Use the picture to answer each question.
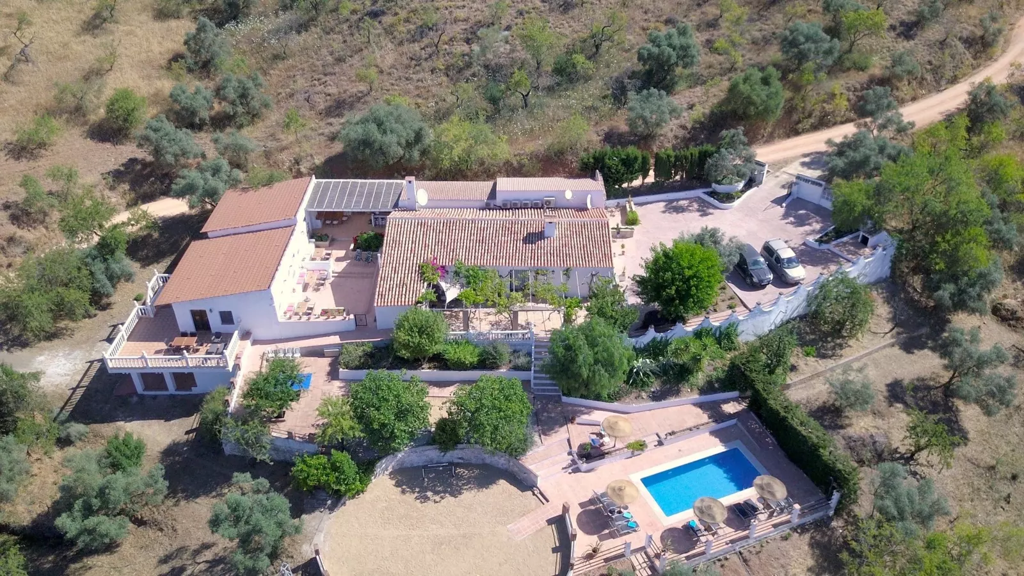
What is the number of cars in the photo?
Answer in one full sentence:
The count of cars comes to 2.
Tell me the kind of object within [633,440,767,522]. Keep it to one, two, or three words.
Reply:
swimming pool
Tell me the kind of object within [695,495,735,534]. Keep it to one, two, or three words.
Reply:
umbrella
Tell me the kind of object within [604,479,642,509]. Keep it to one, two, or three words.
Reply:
umbrella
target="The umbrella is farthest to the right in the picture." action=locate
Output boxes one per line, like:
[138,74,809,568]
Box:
[756,474,795,512]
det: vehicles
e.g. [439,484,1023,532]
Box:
[765,239,805,280]
[734,243,773,283]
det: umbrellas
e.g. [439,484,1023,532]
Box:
[695,495,735,534]
[756,474,795,512]
[599,416,634,448]
[604,479,642,509]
